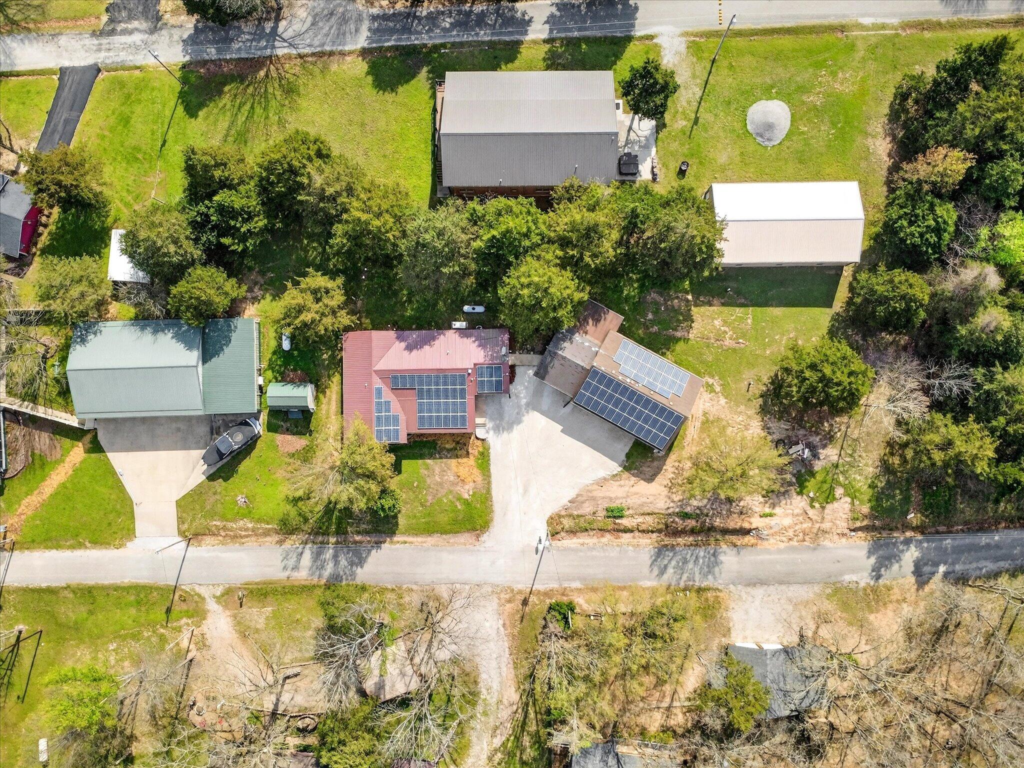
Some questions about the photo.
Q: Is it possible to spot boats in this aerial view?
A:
Yes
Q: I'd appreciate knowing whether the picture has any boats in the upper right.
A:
No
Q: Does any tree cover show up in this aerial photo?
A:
Yes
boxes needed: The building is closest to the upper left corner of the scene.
[0,173,40,257]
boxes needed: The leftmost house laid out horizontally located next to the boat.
[66,318,265,418]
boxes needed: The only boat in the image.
[202,418,265,462]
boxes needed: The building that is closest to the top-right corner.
[703,181,865,269]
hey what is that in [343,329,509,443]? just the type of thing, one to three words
house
